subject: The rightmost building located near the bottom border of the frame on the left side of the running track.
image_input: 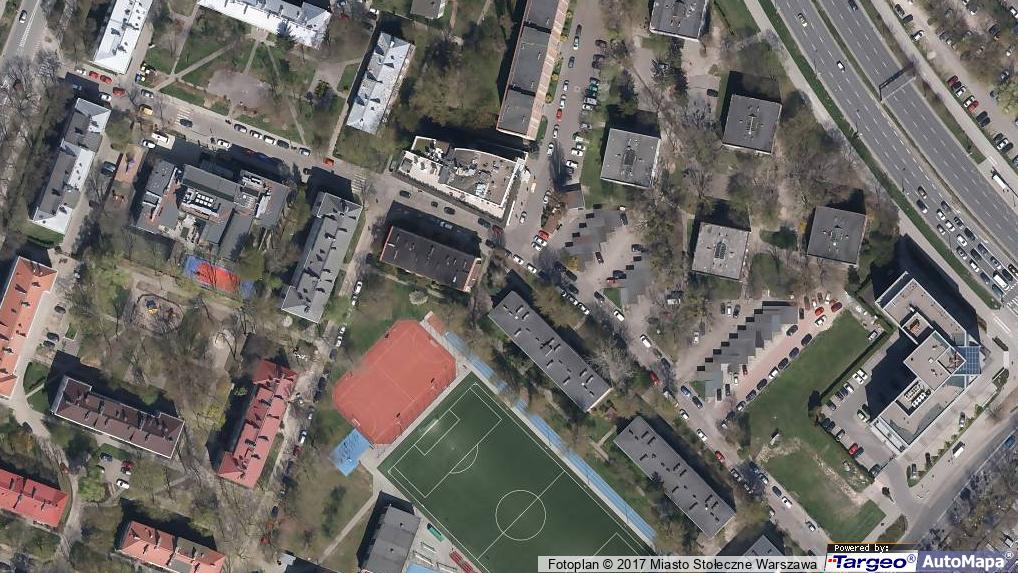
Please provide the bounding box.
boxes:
[366,505,423,573]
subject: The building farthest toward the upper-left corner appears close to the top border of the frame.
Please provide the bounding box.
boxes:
[94,0,155,75]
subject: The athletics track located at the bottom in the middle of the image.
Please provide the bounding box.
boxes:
[430,310,661,552]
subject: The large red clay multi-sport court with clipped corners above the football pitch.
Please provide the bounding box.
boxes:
[333,320,456,444]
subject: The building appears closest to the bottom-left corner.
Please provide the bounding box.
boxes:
[0,468,71,527]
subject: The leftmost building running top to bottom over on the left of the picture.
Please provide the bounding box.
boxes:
[0,256,61,398]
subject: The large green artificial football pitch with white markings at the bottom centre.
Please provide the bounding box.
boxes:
[380,373,675,573]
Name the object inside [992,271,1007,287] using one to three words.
vehicle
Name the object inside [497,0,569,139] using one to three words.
building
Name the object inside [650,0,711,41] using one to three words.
building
